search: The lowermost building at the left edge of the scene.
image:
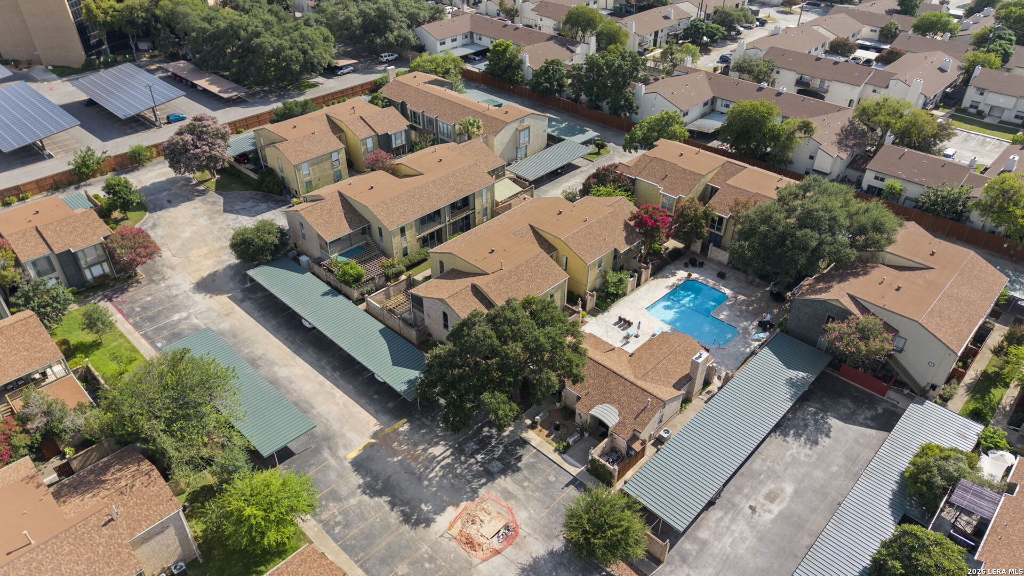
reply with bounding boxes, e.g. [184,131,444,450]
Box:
[0,443,201,576]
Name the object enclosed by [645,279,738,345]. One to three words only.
swimming pool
